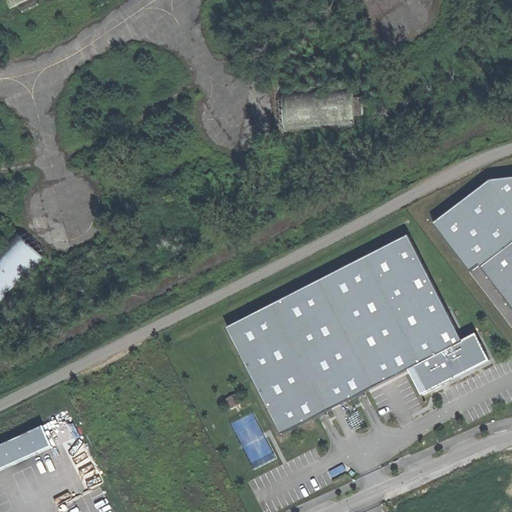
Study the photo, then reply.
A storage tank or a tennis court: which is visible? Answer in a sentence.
The image shows a tennis court.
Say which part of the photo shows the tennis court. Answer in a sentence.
The tennis court appears toward the bottom of the photo.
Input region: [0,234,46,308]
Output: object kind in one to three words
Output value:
hangar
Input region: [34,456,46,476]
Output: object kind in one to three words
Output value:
vehicle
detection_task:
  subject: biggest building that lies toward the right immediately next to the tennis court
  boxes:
[226,235,460,432]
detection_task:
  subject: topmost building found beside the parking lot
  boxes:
[432,178,512,328]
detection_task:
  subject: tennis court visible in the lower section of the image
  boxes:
[231,412,276,469]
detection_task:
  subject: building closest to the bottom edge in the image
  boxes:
[0,425,52,474]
